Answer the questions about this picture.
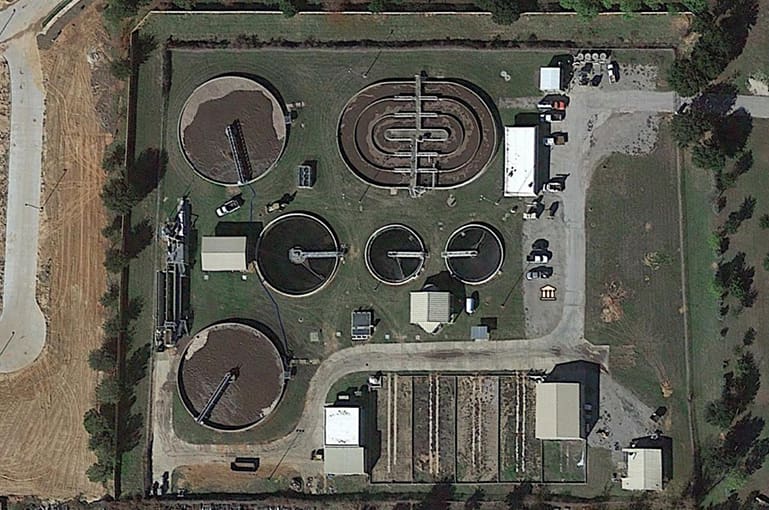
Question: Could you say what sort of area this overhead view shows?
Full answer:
What you see here is an industrial area.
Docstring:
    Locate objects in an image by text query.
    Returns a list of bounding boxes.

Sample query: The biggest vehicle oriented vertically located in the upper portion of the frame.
[605,61,619,88]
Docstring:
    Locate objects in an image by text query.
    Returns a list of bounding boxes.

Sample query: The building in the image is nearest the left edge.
[201,235,252,273]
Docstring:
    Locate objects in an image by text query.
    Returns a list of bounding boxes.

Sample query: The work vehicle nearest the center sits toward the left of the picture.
[263,201,289,216]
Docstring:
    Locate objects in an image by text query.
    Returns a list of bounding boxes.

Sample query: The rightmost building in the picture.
[622,448,665,491]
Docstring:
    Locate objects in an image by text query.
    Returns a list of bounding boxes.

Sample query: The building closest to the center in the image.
[410,288,460,334]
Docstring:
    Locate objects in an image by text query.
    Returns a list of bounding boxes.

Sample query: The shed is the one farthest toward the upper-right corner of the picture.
[540,67,564,90]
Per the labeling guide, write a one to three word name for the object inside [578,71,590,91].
vehicle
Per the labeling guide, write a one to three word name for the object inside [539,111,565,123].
vehicle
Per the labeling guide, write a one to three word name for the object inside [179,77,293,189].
storage tank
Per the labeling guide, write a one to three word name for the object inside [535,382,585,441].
building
